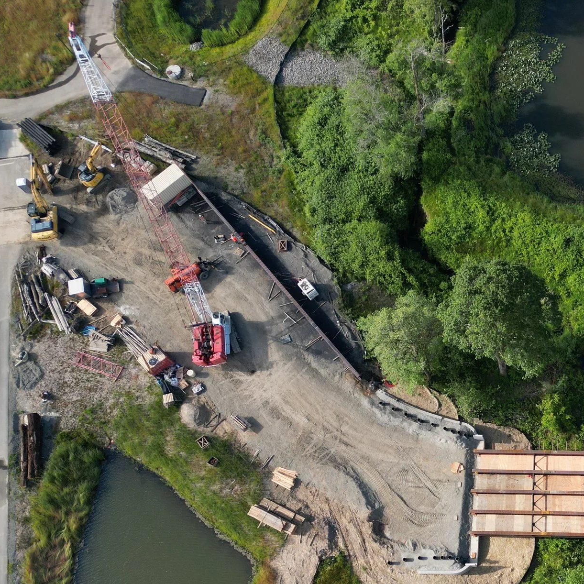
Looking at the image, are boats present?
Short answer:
No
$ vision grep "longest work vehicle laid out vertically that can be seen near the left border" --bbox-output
[27,154,69,243]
